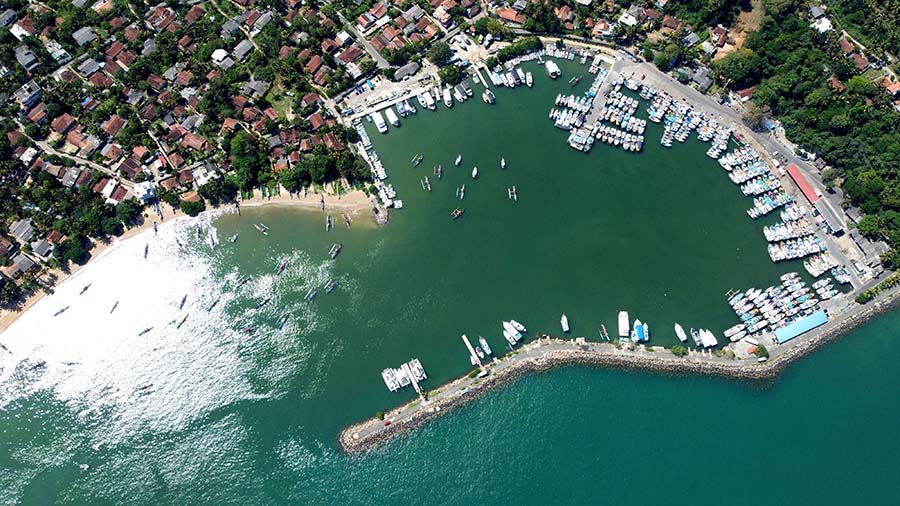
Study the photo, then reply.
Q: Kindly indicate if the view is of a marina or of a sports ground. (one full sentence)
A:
The area seen from above is a marina.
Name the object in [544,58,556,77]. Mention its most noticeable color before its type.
white boat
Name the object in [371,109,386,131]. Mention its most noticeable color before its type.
white boat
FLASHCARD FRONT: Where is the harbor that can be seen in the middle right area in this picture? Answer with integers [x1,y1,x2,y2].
[597,64,870,366]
